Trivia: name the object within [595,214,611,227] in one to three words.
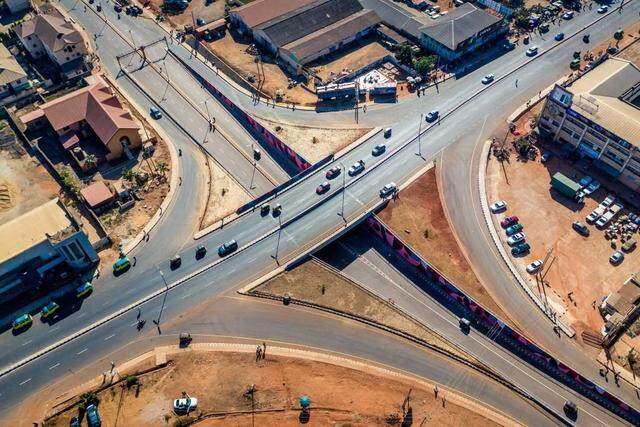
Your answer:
vehicle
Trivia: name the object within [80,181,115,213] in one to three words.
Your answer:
shed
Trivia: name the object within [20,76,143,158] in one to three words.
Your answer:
house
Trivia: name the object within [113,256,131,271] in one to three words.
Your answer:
vehicle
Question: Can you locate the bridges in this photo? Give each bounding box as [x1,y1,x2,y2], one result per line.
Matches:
[239,153,395,266]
